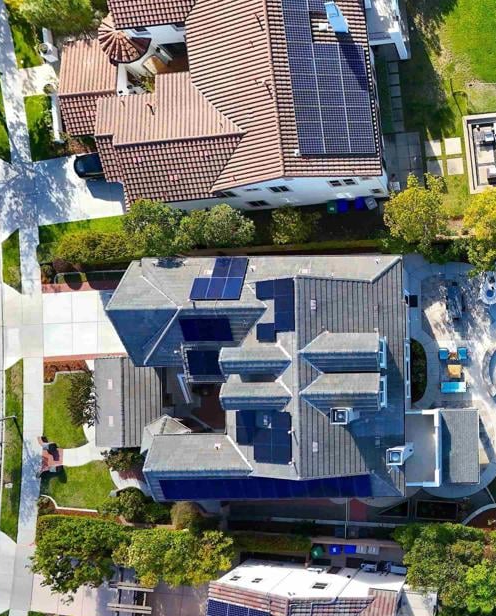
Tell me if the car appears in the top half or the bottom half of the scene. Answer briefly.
top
